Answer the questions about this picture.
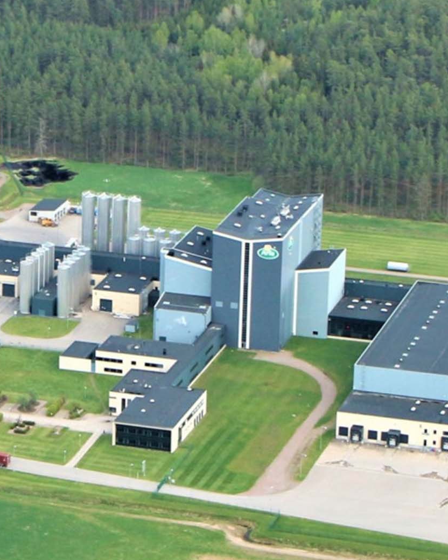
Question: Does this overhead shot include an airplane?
No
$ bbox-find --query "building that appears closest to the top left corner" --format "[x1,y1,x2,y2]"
[29,198,68,222]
